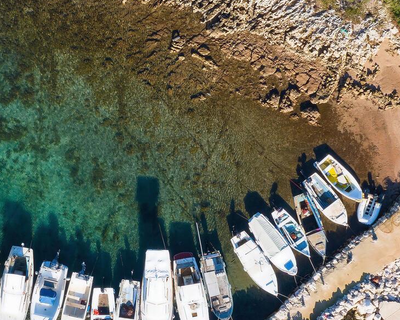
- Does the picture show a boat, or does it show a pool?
boat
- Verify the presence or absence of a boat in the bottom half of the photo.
Yes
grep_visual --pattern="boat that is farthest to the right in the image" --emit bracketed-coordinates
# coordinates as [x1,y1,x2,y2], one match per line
[357,190,383,225]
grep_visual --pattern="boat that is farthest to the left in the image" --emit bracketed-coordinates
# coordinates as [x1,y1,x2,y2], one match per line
[0,232,34,320]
